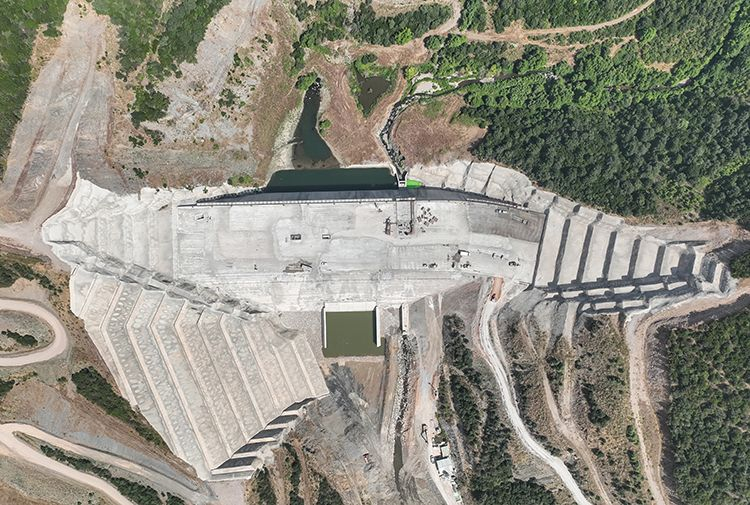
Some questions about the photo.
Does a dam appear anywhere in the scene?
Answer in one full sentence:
Yes, there's a dam here.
